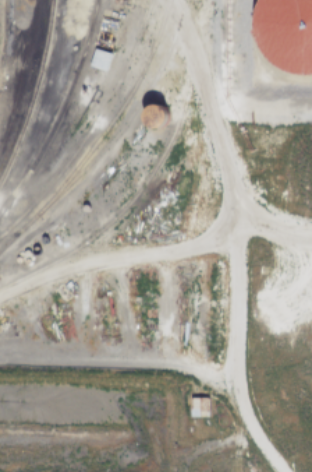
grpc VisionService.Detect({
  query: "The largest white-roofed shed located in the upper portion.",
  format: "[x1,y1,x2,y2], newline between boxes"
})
[92,49,114,70]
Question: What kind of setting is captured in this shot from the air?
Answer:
industrial area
